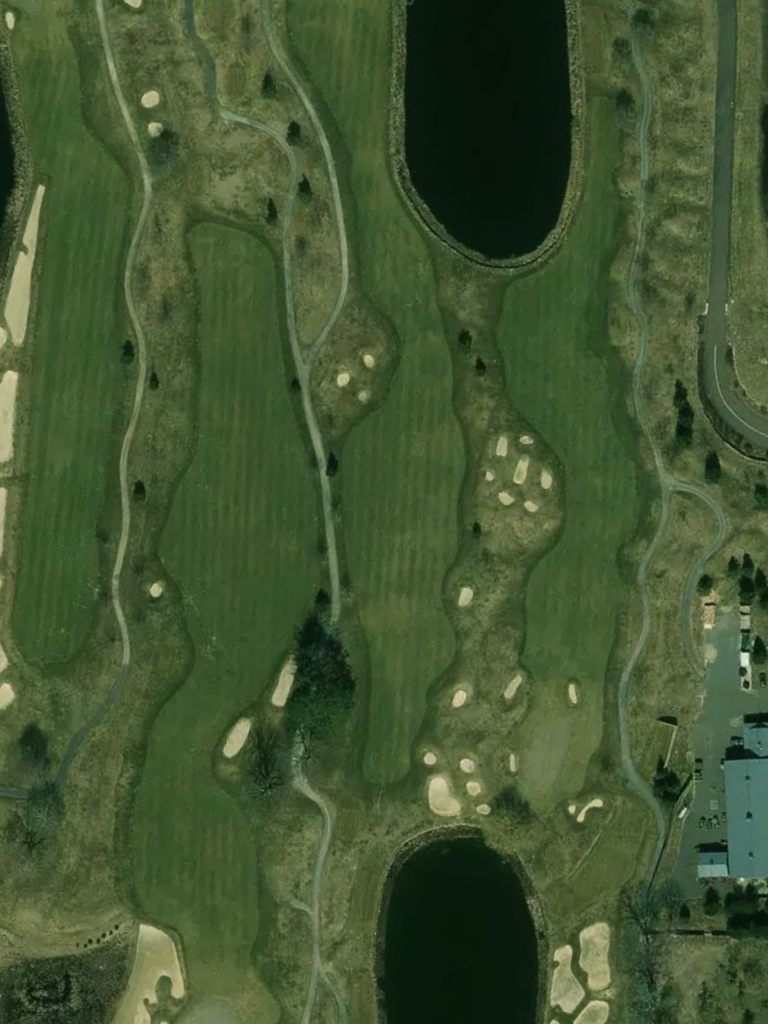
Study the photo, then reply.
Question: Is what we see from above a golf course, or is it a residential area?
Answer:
golf course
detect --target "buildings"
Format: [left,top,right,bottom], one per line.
[725,760,768,879]
[699,853,728,878]
[745,724,768,760]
